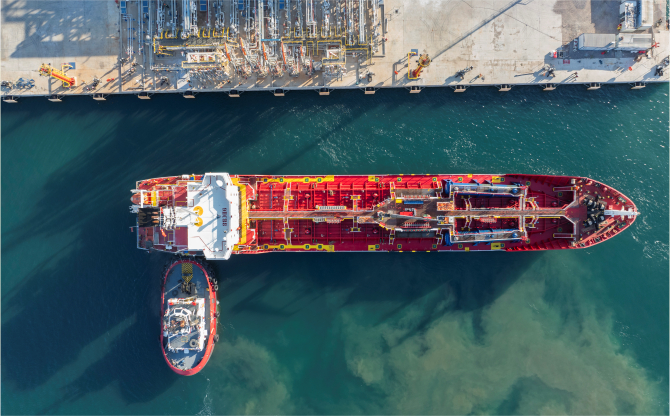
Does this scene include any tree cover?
No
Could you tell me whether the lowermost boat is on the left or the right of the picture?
left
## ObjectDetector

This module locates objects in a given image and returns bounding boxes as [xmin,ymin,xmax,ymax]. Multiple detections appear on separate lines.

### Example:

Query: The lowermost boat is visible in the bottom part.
[158,258,221,375]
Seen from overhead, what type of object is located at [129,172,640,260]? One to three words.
ship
